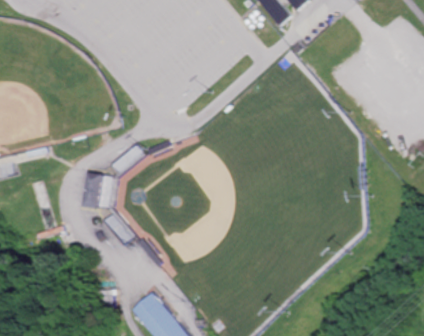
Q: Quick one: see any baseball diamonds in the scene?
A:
Yes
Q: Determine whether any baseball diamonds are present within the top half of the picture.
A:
Yes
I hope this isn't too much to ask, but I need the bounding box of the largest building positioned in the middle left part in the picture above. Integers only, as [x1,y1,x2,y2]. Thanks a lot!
[82,172,118,208]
